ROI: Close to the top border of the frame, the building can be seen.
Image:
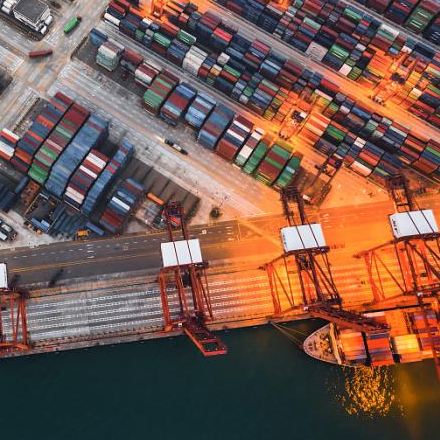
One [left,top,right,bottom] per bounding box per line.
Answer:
[12,0,52,31]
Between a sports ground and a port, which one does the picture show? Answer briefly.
port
